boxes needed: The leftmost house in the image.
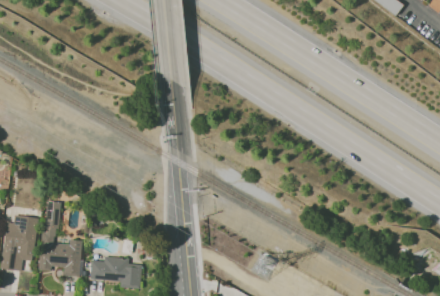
[2,218,39,270]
